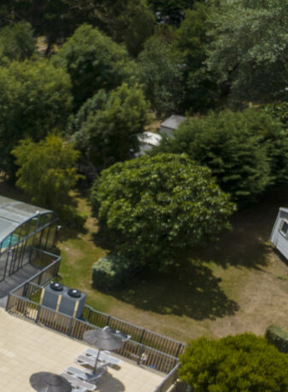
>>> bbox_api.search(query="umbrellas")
[83,329,128,373]
[28,374,76,392]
